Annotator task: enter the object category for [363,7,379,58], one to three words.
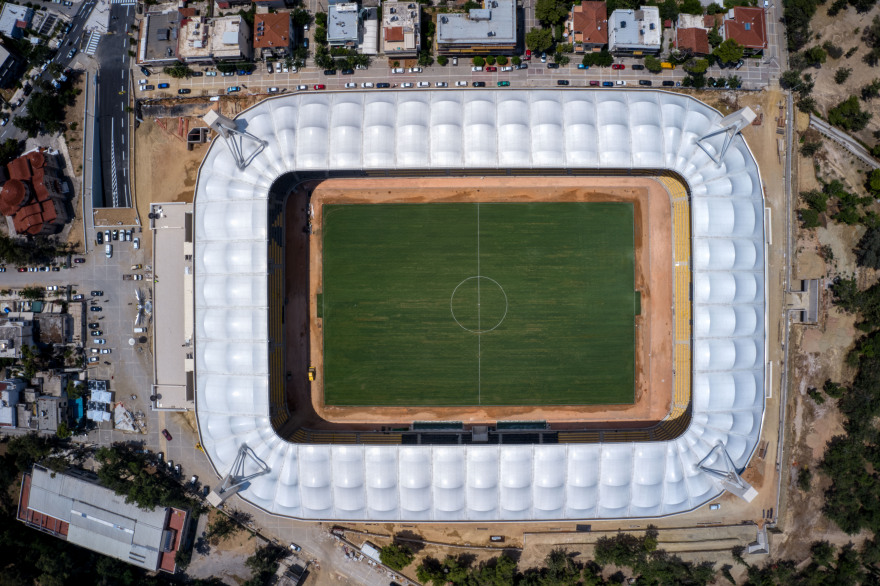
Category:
shed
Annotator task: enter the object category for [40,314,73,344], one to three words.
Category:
house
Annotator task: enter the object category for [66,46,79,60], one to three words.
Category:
vehicle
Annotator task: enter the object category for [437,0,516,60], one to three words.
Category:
building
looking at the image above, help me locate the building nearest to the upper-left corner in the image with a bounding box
[0,2,46,46]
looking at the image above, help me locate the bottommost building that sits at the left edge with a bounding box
[15,459,195,574]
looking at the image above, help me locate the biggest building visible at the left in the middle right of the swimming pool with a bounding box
[150,203,195,411]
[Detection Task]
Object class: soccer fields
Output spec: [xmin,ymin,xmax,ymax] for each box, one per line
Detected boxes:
[317,202,641,406]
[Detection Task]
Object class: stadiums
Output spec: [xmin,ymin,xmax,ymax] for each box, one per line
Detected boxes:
[193,90,767,520]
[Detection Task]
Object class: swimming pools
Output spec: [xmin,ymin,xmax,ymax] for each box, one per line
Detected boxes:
[68,396,84,421]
